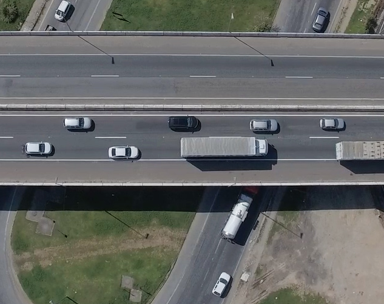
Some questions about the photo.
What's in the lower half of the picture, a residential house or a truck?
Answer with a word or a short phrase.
truck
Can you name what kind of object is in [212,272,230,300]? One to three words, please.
car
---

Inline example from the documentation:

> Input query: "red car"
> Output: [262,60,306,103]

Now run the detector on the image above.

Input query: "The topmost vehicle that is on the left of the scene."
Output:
[55,0,72,20]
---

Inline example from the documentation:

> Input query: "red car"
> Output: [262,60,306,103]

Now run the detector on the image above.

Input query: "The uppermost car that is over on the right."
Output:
[312,6,331,33]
